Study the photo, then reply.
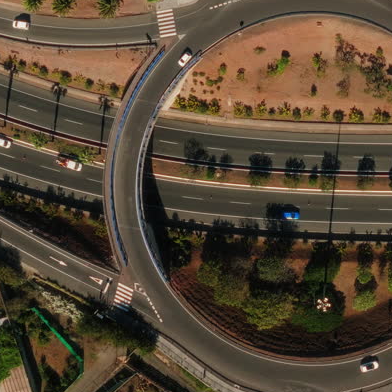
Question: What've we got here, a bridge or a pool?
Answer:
bridge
